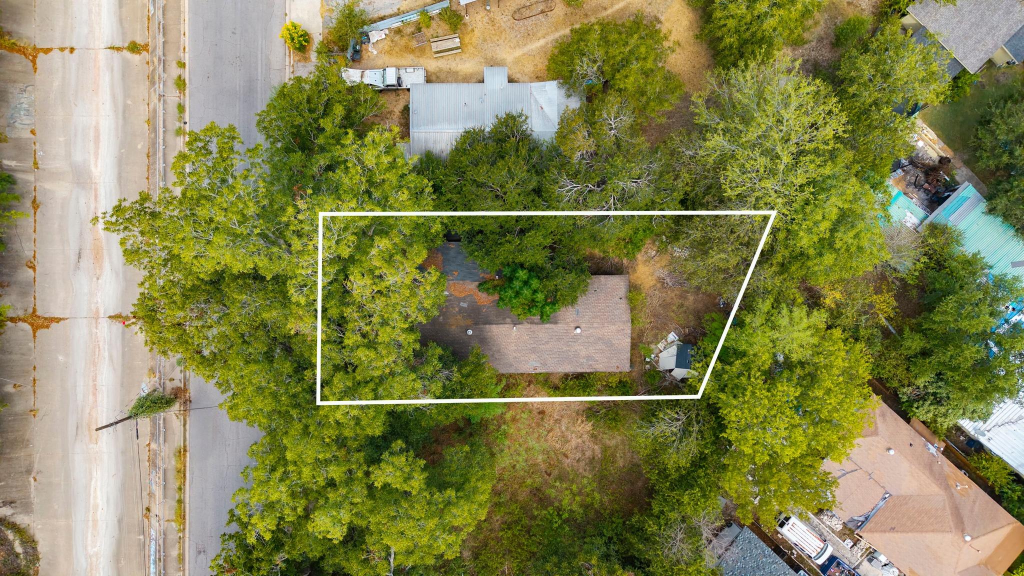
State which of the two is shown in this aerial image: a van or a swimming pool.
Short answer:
van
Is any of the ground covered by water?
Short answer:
No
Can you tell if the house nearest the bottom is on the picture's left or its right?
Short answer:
right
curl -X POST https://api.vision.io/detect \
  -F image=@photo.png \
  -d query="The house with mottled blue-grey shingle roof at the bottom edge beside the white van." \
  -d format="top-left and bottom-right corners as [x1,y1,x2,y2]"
[703,523,794,576]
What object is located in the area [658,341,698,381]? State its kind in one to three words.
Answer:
shed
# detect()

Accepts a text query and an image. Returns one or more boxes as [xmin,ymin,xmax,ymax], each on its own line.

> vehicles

[342,64,429,90]
[774,511,833,567]
[821,546,867,576]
